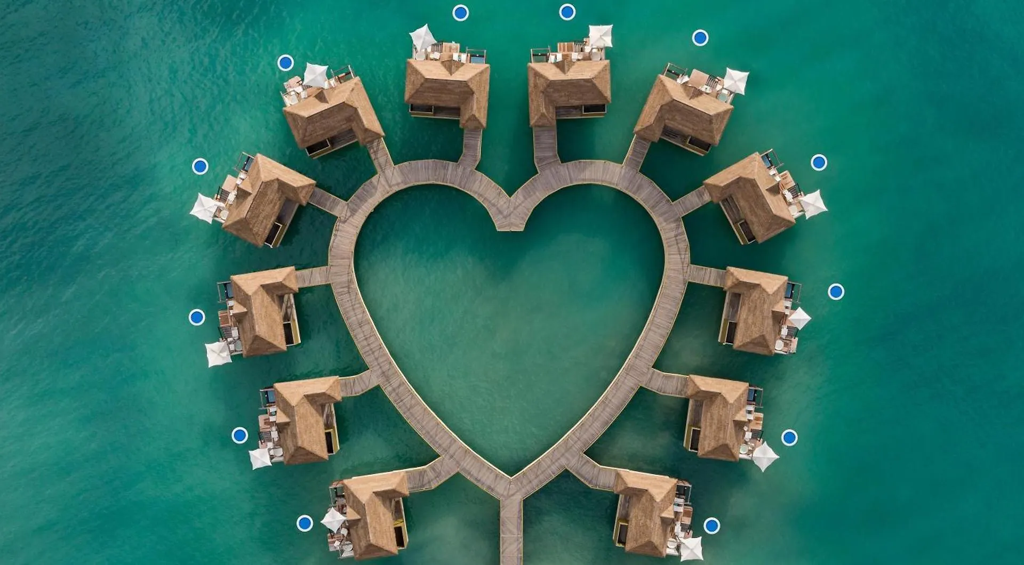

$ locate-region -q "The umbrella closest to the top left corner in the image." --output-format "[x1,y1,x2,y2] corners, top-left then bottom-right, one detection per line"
[190,193,222,223]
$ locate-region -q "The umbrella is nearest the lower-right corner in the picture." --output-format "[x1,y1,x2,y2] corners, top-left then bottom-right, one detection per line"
[747,441,779,472]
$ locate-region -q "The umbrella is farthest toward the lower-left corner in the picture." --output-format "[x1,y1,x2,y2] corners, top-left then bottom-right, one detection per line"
[249,448,276,470]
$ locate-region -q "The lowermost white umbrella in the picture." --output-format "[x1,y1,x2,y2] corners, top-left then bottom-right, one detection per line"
[680,535,703,561]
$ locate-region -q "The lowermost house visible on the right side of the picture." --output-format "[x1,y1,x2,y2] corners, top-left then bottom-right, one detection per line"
[611,466,696,557]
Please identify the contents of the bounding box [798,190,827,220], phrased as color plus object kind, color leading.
white umbrella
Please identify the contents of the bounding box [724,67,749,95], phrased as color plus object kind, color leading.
white umbrella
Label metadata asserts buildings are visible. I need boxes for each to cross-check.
[325,467,412,560]
[215,148,317,252]
[527,38,611,126]
[702,146,802,248]
[214,266,304,357]
[716,266,804,355]
[405,38,490,128]
[611,466,696,557]
[257,374,345,466]
[682,374,766,461]
[283,60,385,163]
[633,58,734,159]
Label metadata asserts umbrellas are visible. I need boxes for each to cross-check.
[798,190,827,220]
[747,441,779,472]
[680,535,703,561]
[205,341,239,367]
[409,24,437,51]
[190,193,222,223]
[589,25,613,51]
[321,507,345,533]
[724,67,749,95]
[249,448,276,470]
[304,63,328,86]
[788,307,812,329]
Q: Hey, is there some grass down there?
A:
No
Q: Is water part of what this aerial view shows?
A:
Yes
